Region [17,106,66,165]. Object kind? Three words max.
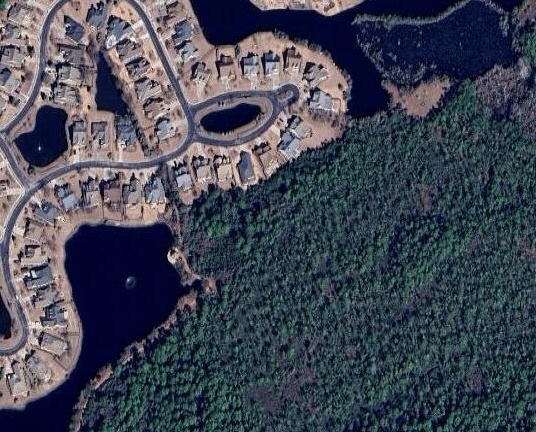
pond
